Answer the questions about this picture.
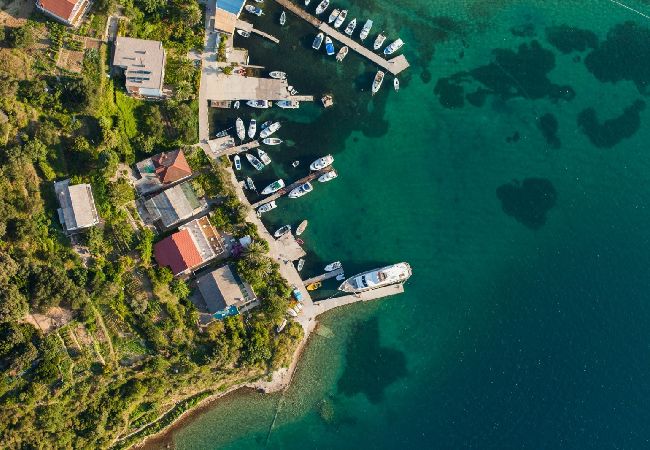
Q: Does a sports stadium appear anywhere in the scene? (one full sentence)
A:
No, no sports stadium is visible in the scene.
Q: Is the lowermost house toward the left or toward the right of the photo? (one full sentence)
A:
The lowermost house sits on the left side.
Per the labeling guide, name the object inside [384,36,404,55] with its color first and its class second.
white boat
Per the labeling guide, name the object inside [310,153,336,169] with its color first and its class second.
white boat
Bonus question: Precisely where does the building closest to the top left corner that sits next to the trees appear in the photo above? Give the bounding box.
[35,0,102,31]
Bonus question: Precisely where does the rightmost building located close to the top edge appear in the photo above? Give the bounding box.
[214,0,248,36]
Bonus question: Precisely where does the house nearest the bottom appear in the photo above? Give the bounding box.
[187,261,259,322]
